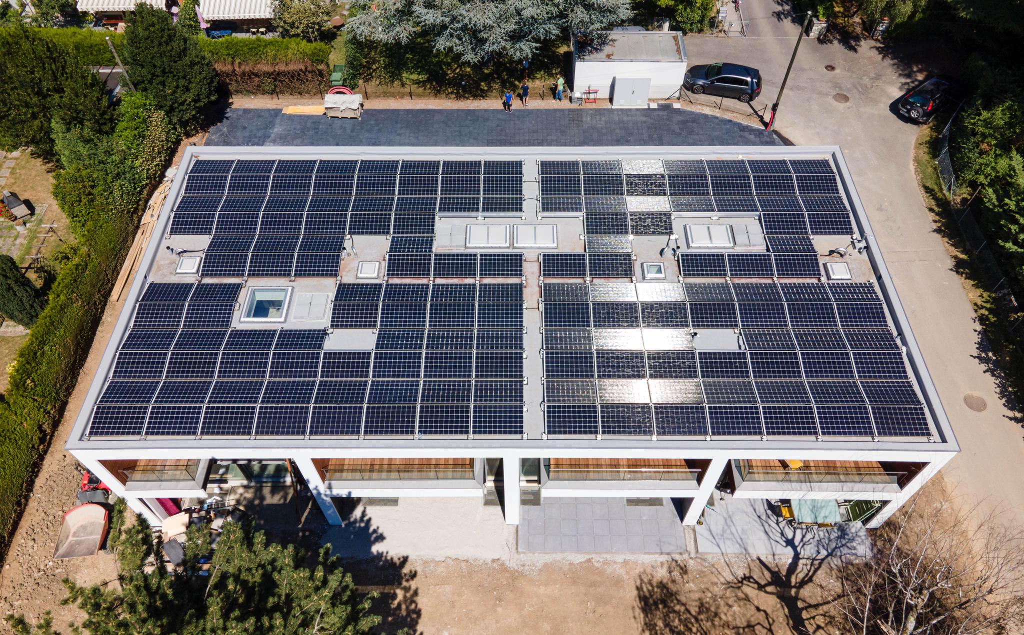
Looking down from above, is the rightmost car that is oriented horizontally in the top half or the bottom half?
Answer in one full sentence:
You can find the rightmost car that is oriented horizontally in the top half.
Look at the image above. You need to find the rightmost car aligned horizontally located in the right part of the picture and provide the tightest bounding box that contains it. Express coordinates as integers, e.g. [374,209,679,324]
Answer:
[686,61,767,102]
